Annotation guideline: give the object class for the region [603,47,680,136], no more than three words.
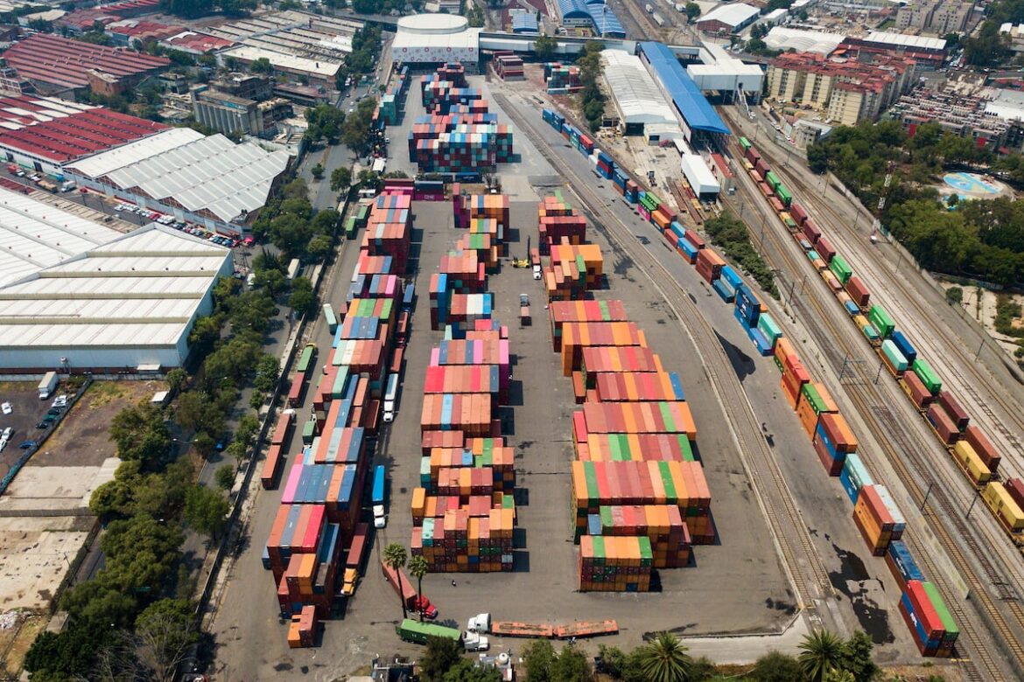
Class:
shed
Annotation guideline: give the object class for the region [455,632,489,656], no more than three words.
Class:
truck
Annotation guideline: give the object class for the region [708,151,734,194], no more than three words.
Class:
building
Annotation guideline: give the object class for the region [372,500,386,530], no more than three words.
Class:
vehicle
